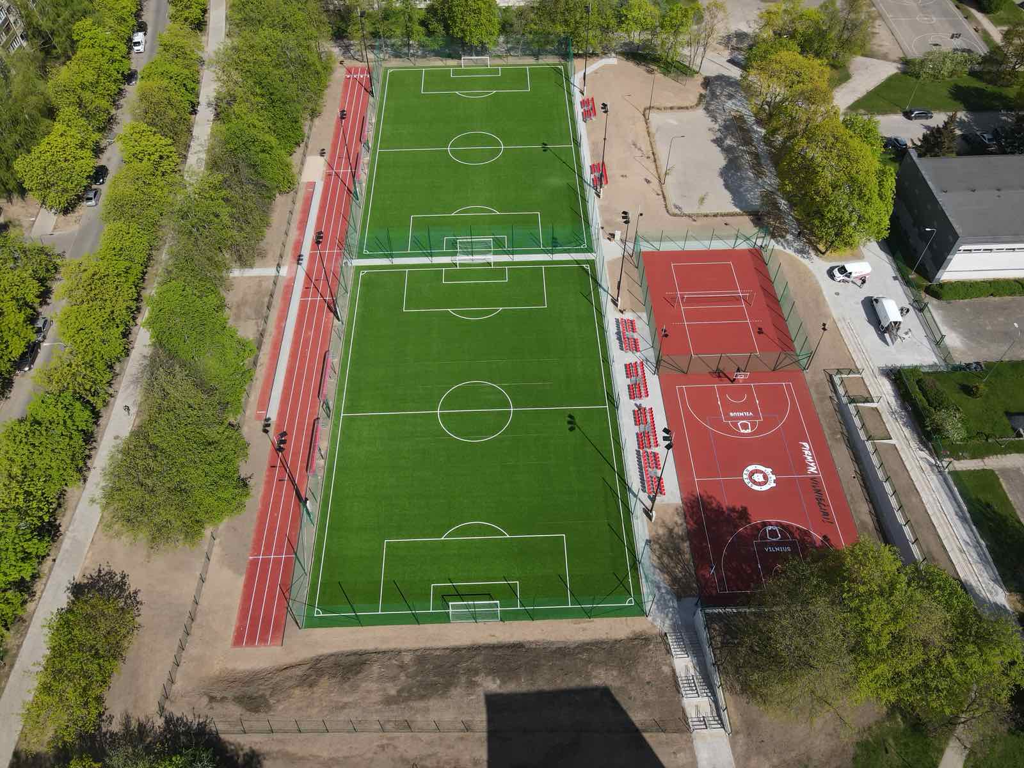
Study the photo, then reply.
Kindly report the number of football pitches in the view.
two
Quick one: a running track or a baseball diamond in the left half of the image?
running track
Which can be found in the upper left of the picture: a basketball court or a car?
car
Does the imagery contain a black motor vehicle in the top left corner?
Yes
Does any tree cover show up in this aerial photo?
Yes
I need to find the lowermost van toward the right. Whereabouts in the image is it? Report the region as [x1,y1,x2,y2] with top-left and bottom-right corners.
[873,303,909,342]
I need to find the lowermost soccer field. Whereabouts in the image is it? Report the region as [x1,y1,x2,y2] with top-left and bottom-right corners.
[301,260,647,628]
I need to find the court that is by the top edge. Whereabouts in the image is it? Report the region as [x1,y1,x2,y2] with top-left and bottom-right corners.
[874,0,986,58]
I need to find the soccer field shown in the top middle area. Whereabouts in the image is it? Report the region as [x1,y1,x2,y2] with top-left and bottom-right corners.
[355,62,595,259]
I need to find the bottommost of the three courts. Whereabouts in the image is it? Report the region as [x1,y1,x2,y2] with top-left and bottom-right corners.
[658,370,879,608]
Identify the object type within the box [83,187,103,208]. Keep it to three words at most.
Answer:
car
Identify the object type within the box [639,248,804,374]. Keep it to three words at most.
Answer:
sports court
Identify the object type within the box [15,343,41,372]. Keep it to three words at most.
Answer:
car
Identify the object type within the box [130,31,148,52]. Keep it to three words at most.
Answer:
vehicle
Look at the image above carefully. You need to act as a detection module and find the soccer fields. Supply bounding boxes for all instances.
[355,62,595,259]
[301,260,647,628]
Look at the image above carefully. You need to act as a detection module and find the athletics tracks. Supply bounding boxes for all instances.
[231,67,371,647]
